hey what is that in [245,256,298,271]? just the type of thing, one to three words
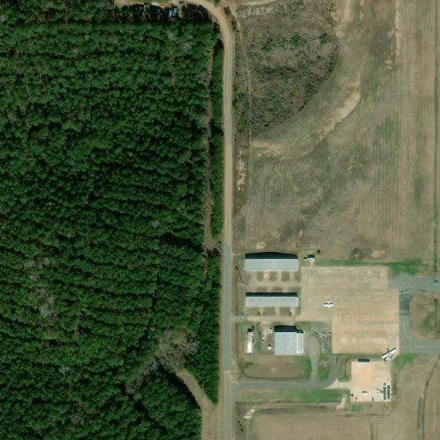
hangar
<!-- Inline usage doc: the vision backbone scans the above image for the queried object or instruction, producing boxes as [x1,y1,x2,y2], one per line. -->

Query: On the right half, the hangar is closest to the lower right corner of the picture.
[275,331,304,355]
